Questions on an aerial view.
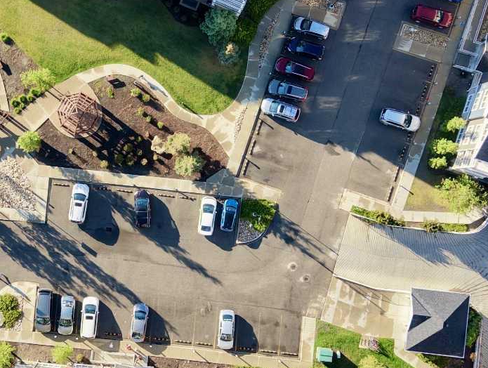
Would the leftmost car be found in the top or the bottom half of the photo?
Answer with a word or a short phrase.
bottom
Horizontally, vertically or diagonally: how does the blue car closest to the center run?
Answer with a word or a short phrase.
vertically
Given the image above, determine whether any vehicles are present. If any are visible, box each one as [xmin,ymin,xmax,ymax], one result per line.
[33,288,54,333]
[291,17,332,41]
[409,4,454,28]
[197,195,218,236]
[259,98,302,123]
[80,296,100,340]
[130,303,149,344]
[216,308,235,350]
[219,198,239,233]
[378,108,423,134]
[69,183,90,225]
[56,295,76,335]
[133,189,152,229]
[274,57,317,82]
[267,78,311,103]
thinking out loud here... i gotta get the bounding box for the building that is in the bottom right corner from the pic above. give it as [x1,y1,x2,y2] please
[405,288,471,359]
